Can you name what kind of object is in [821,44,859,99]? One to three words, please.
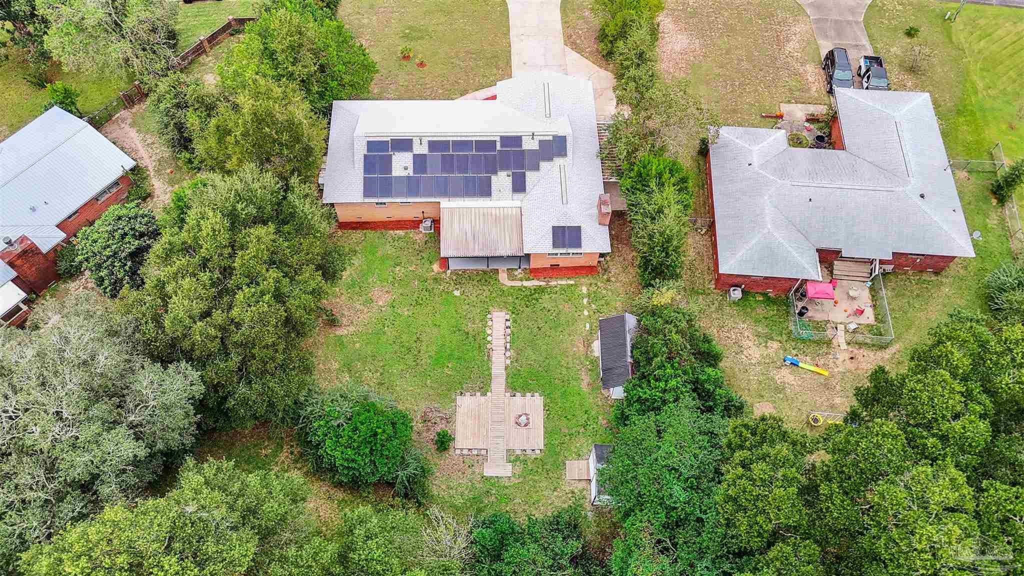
car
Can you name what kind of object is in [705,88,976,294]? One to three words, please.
house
